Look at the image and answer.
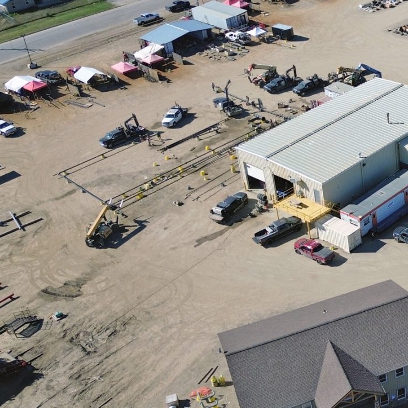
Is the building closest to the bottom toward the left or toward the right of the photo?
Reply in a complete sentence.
It is on the right.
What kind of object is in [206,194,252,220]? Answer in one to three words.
truck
